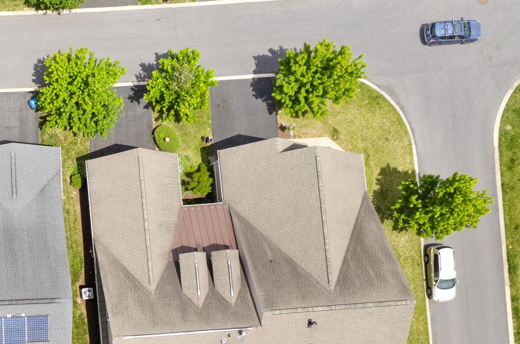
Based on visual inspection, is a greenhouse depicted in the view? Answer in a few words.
No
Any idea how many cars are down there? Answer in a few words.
2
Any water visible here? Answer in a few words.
No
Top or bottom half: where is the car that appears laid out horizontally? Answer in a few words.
top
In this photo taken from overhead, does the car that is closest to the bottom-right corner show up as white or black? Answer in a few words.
white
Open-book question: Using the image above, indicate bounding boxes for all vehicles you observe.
[419,17,477,47]
[426,245,458,301]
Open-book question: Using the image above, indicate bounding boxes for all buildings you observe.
[81,138,415,344]
[0,143,72,344]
